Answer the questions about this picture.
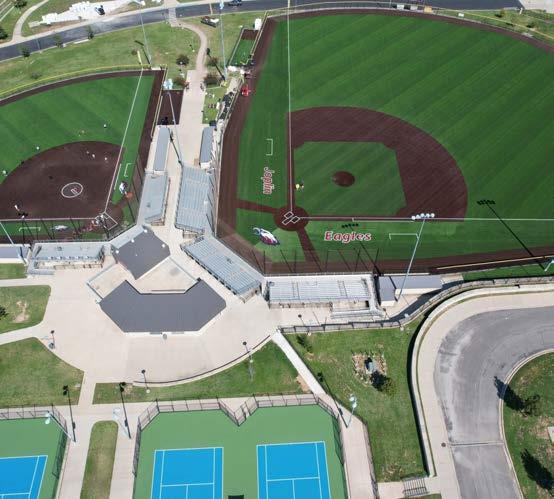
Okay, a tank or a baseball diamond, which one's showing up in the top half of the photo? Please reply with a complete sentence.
Visible in the top half of the photo is a baseball diamond.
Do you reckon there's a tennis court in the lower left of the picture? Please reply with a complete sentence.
Yes, a tennis court can be seen in the lower left of the picture.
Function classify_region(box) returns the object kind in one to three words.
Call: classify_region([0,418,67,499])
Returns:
tennis court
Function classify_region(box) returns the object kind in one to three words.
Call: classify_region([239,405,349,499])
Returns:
tennis court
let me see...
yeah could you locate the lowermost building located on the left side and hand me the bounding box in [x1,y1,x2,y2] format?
[100,279,226,337]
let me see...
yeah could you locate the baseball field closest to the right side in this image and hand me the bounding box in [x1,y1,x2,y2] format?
[218,8,554,274]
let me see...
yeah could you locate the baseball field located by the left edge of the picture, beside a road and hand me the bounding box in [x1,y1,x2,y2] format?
[0,68,165,243]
